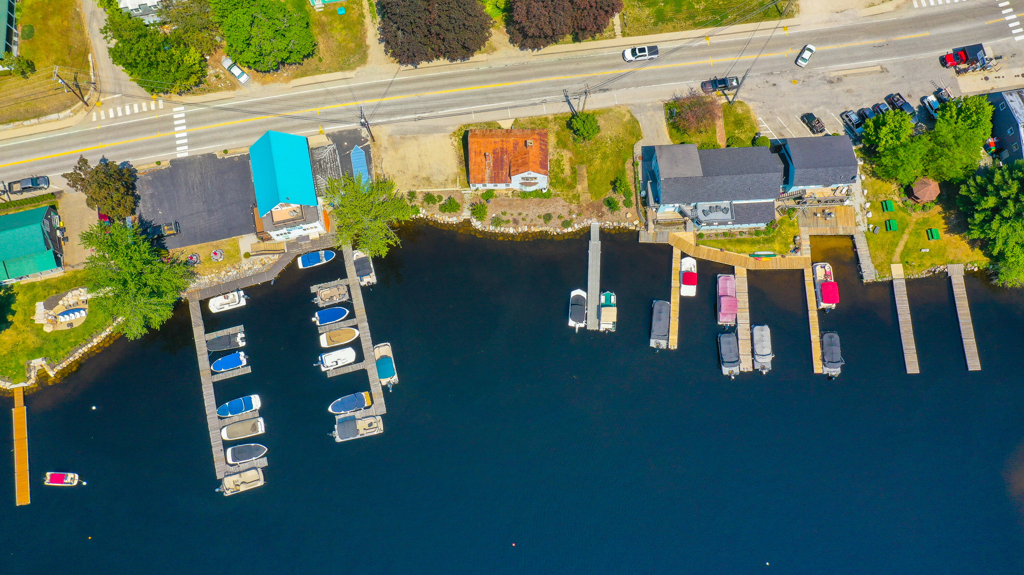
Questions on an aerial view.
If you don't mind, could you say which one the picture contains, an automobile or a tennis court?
automobile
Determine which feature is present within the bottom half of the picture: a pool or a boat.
boat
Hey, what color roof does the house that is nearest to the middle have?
orange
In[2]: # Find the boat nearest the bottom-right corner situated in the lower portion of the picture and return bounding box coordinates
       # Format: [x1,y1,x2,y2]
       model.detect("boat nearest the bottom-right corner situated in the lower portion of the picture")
[819,330,843,377]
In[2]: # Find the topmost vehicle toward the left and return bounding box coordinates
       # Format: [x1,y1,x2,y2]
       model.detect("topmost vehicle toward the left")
[222,58,249,82]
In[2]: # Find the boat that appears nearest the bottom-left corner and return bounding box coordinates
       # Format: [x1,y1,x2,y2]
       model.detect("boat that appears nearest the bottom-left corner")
[39,472,81,487]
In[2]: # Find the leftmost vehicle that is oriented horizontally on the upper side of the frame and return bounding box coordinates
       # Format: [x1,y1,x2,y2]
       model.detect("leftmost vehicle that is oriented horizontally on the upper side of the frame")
[4,175,51,195]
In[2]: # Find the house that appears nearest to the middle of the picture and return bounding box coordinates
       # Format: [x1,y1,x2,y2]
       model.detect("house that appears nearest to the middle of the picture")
[468,129,549,195]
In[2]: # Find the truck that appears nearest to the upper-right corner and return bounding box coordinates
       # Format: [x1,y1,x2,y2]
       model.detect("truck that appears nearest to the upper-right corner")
[940,38,994,69]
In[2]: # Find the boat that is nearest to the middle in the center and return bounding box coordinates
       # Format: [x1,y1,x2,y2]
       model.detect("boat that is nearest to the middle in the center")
[569,288,587,334]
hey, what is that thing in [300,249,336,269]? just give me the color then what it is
blue boat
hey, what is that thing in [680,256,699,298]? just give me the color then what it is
white boat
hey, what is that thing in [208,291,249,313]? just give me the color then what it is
white boat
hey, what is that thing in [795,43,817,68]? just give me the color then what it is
white car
